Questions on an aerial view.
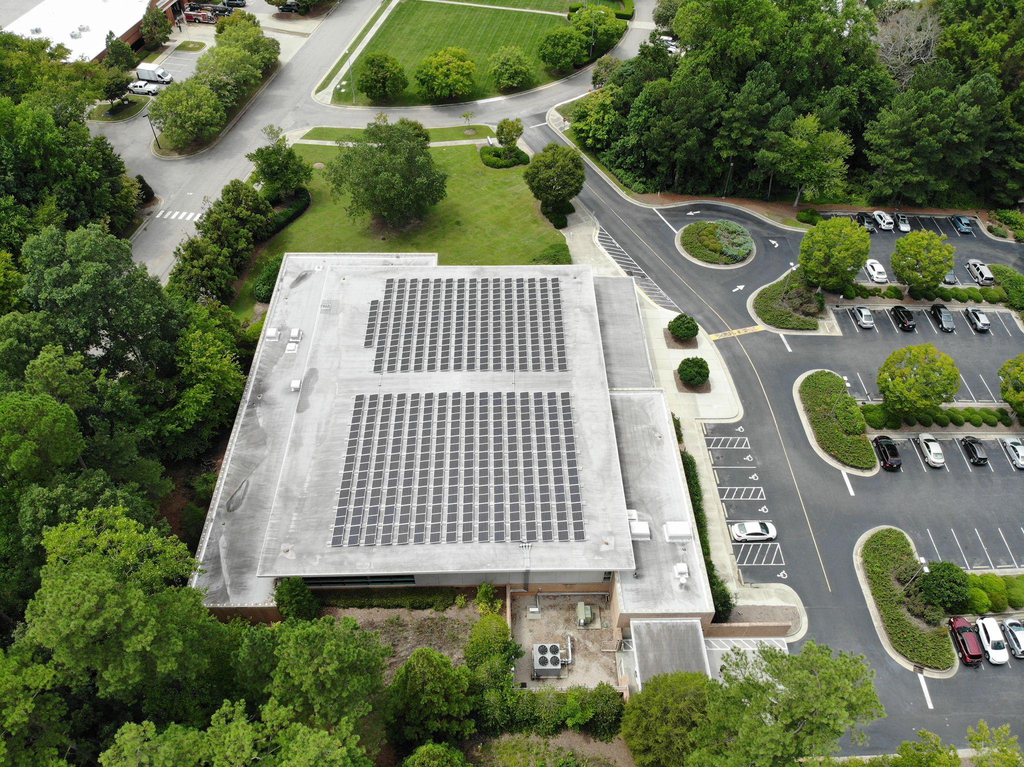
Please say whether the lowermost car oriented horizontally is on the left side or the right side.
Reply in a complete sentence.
The lowermost car oriented horizontally sits on the right side.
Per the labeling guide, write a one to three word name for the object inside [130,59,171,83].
truck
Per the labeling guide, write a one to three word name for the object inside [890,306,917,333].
car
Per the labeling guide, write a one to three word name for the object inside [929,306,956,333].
car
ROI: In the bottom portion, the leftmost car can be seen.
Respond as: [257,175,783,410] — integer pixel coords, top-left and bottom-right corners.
[730,520,778,542]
